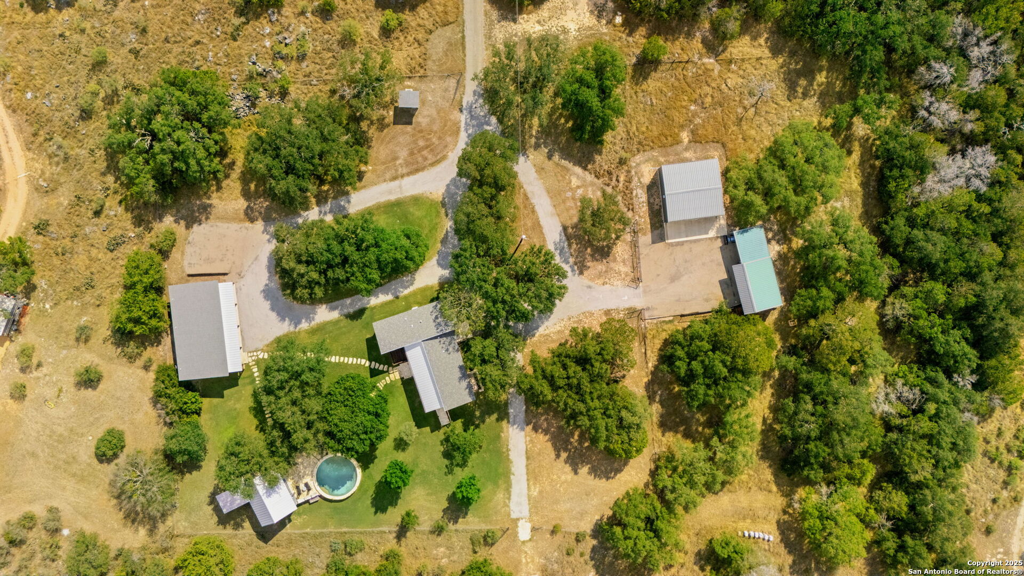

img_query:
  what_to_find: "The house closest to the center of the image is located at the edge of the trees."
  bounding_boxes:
[372,299,475,413]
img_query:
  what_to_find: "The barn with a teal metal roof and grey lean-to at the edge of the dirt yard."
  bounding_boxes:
[728,225,783,314]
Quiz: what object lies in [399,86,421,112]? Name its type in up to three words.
shed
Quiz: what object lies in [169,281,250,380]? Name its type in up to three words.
barn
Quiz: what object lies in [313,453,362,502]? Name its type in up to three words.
swimming pool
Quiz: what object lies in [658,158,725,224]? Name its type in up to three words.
building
